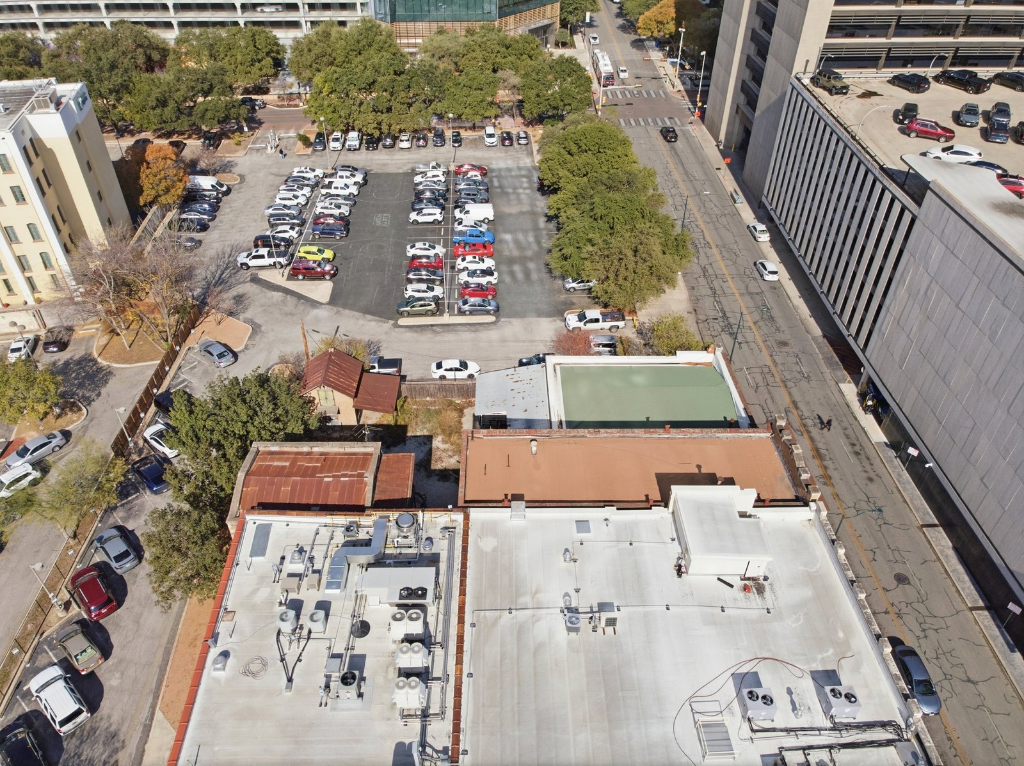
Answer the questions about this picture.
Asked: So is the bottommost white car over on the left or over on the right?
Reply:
left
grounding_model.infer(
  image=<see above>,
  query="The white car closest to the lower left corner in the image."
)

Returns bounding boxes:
[29,663,95,740]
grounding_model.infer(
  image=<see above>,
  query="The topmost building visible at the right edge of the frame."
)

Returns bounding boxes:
[705,0,1024,213]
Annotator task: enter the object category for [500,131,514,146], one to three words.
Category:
car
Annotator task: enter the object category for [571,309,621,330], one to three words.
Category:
truck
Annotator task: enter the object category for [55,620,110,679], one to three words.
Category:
car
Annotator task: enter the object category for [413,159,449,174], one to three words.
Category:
vehicle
